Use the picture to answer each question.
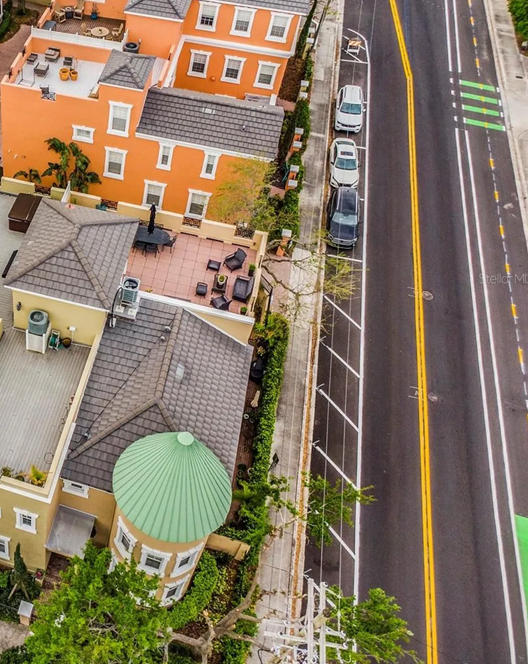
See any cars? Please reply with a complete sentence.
Yes, the image includes a car.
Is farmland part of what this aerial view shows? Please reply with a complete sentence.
No, the scene doesn't show any farmland.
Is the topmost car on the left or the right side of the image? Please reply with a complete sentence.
The topmost car is on the right side of the image.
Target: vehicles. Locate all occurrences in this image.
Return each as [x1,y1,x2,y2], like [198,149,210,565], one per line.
[336,89,370,140]
[332,145,368,193]
[329,190,370,255]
